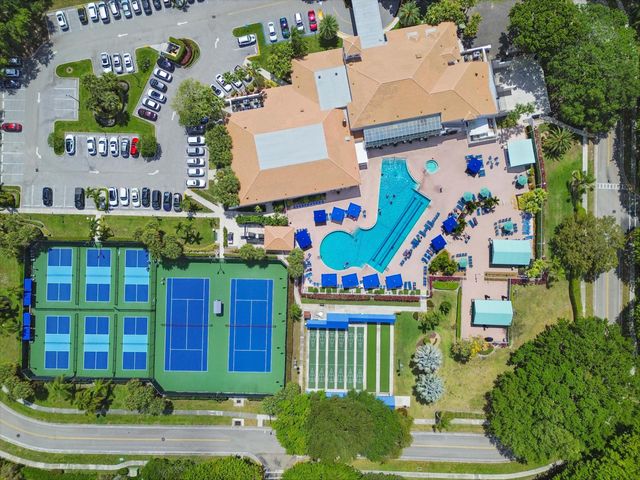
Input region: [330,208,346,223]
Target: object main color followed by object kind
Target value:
blue umbrella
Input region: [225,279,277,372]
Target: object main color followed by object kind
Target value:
blue tennis court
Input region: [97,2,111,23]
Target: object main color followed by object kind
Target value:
white vehicle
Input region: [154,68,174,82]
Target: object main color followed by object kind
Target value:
white car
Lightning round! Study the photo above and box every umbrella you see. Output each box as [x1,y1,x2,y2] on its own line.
[466,158,481,172]
[321,274,337,288]
[342,273,359,289]
[362,273,380,289]
[458,258,467,267]
[517,175,527,186]
[385,274,402,289]
[429,234,447,251]
[462,191,472,201]
[479,187,489,196]
[442,216,457,232]
[346,204,362,219]
[330,208,346,223]
[295,229,312,249]
[313,210,326,223]
[503,221,512,231]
